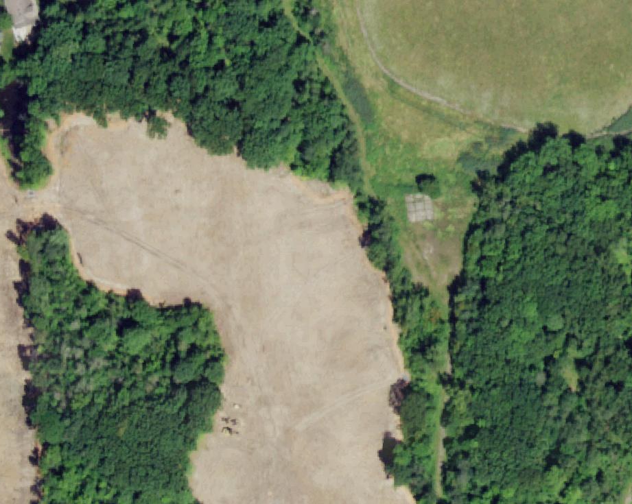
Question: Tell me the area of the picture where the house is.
top left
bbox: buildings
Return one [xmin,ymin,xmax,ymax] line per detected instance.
[5,0,42,42]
